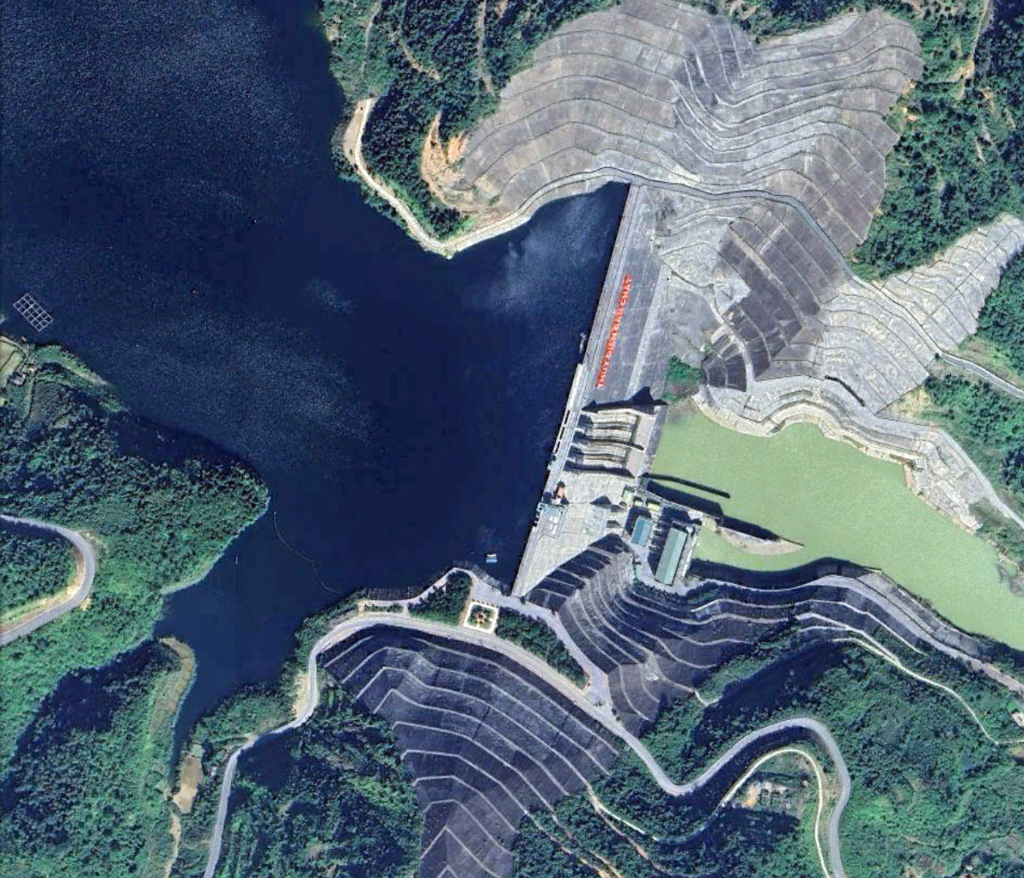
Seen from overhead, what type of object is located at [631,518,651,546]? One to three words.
building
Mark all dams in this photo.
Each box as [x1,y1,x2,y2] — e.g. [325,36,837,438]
[512,181,670,598]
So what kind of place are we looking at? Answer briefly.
port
